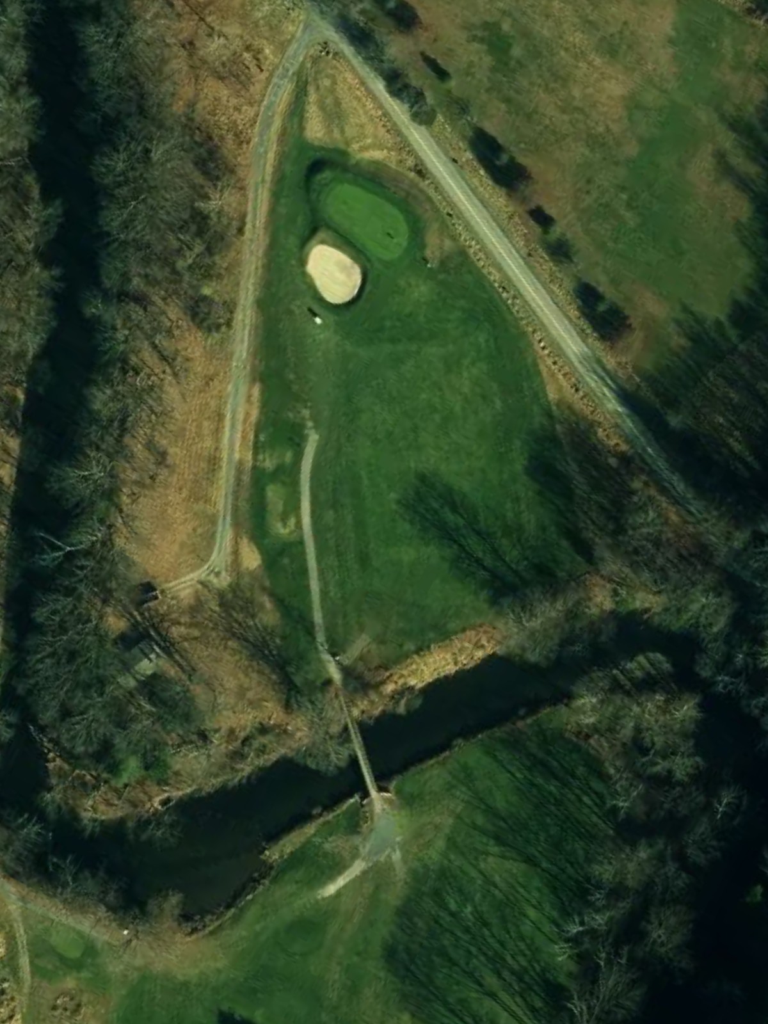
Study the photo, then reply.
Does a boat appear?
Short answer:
No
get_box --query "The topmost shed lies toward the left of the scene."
[133,581,160,607]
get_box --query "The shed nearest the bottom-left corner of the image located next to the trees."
[110,646,160,692]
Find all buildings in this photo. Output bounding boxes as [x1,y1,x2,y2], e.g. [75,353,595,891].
[133,581,160,607]
[110,646,160,692]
